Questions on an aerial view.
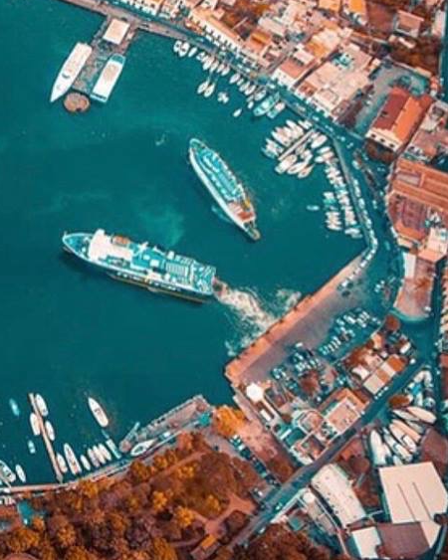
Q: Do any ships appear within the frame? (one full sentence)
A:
Yes, there's a ship here.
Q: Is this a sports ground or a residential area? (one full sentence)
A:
It's a residential area.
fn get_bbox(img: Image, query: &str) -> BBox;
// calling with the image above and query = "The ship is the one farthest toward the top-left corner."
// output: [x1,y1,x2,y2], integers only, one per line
[50,43,89,102]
